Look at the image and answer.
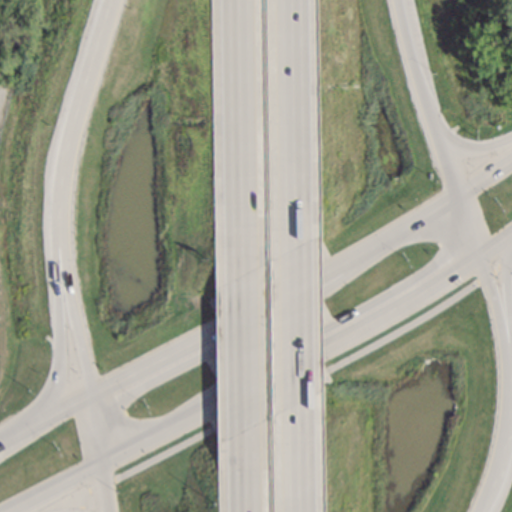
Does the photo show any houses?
No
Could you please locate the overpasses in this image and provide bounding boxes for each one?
[214,238,332,442]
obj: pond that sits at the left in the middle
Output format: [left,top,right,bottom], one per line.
[106,88,160,317]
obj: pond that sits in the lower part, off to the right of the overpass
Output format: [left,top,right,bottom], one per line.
[384,360,456,512]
